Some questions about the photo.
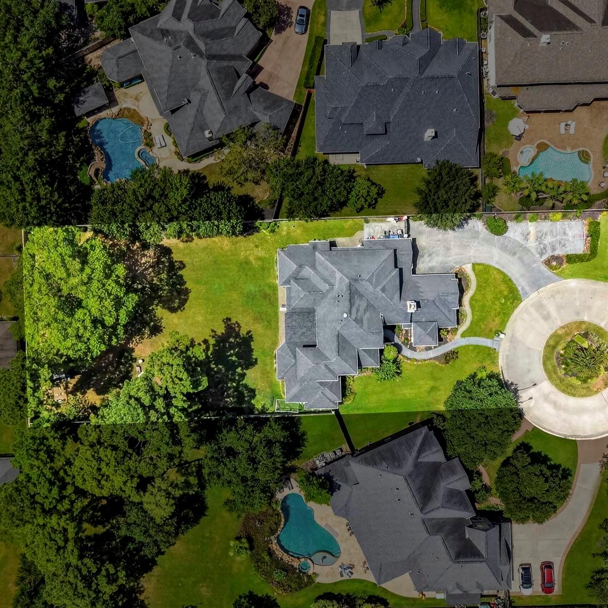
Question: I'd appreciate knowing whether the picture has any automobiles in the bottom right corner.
Yes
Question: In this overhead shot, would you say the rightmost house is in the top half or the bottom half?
top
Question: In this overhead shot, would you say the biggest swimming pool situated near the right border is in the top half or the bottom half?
top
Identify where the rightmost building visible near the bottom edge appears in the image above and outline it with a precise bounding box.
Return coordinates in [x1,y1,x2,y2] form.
[315,427,512,606]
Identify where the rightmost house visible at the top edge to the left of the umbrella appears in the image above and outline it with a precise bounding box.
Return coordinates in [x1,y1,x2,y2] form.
[317,17,480,168]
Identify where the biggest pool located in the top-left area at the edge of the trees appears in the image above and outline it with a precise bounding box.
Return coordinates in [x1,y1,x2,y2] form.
[87,116,150,182]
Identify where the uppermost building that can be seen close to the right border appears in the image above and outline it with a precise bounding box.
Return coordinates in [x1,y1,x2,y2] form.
[487,0,608,115]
